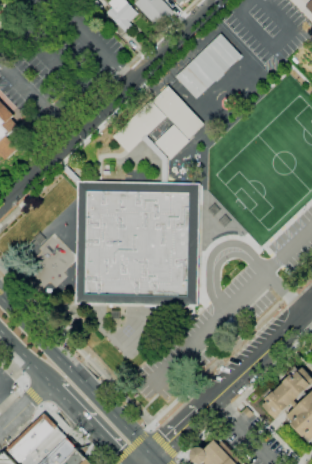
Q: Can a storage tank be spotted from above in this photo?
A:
No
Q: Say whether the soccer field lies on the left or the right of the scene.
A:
right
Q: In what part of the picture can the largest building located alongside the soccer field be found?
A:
center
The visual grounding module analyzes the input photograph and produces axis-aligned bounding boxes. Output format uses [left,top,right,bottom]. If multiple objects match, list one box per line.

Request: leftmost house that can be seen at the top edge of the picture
[108,0,139,32]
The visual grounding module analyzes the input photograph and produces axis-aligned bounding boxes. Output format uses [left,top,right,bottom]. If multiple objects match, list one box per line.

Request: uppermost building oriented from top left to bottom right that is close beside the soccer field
[154,86,204,140]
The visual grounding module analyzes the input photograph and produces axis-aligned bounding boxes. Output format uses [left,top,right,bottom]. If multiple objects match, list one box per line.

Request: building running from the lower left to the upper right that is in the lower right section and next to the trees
[264,368,312,418]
